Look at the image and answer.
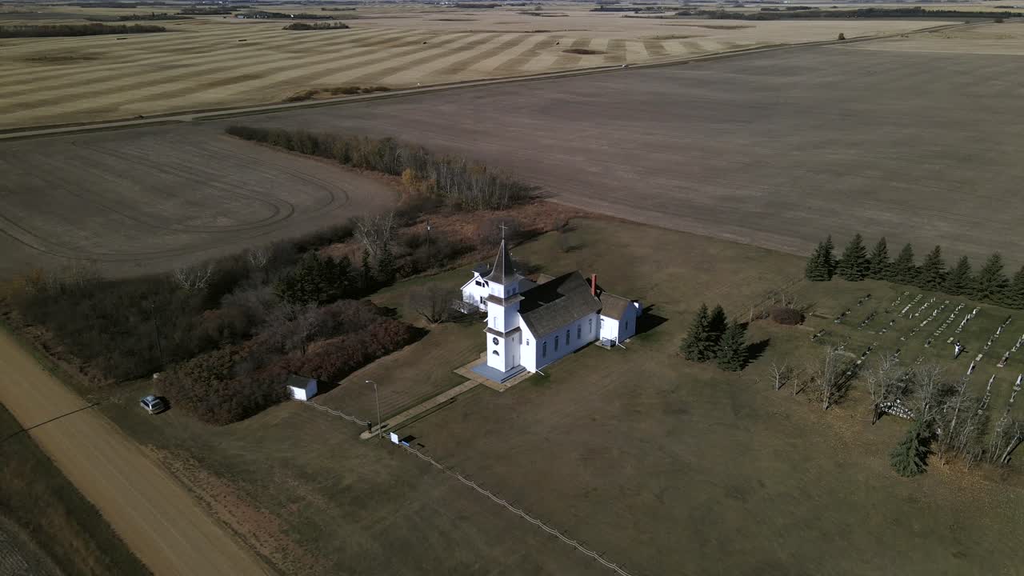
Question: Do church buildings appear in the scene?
Yes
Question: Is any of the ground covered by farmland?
Yes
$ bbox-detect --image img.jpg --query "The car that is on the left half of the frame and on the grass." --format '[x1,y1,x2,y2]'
[141,394,166,412]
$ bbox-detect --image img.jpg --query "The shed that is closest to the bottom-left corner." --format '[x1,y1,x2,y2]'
[289,375,320,402]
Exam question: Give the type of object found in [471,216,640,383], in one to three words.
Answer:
church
